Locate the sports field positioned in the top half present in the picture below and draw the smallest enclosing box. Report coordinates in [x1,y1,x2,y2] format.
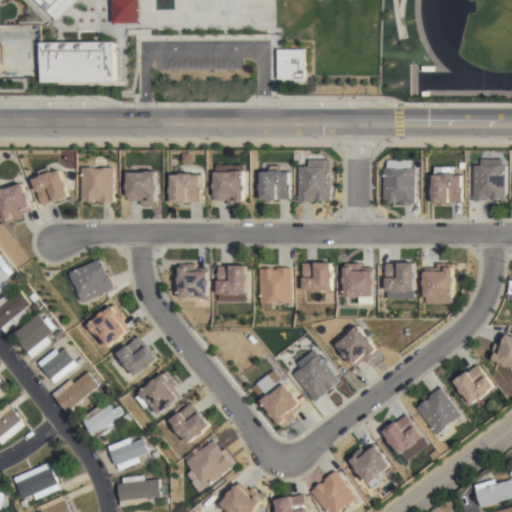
[276,0,380,76]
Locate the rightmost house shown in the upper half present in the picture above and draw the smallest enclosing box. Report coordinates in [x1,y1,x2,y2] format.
[472,158,506,202]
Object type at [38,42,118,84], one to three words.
building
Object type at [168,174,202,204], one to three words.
house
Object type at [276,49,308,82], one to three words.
building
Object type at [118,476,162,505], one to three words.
house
